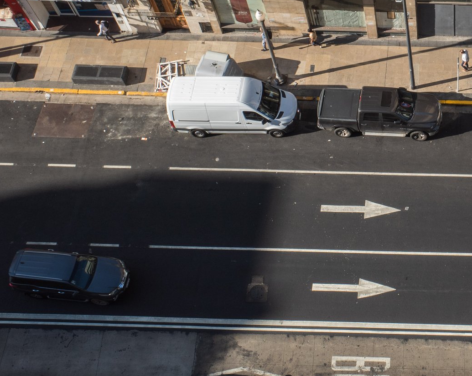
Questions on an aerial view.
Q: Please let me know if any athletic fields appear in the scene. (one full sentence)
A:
No, there's no athletic field here.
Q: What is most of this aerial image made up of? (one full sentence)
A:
The scene is dominated by paved ground.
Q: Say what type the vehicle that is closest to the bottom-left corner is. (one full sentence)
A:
The vehicle that is closest to the bottom-left corner appears to be a car.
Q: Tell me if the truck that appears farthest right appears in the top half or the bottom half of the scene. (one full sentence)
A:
It is in the top half that the truck that appears farthest right appears.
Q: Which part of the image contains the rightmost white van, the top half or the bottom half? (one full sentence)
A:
It is in the top half that the rightmost white van appears.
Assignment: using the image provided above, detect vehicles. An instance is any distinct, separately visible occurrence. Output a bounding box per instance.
[4,251,134,307]
[163,76,302,137]
[317,82,444,138]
